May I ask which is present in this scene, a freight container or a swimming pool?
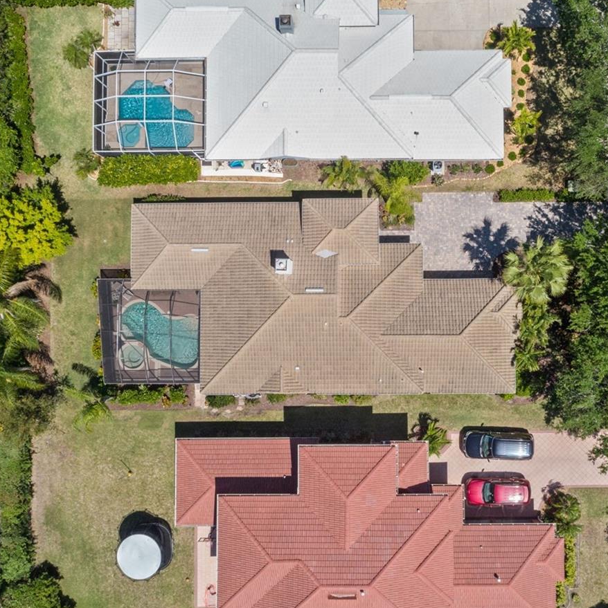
swimming pool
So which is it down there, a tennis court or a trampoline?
trampoline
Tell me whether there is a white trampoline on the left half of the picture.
Yes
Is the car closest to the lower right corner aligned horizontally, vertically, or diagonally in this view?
horizontally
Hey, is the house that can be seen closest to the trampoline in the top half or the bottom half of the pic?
bottom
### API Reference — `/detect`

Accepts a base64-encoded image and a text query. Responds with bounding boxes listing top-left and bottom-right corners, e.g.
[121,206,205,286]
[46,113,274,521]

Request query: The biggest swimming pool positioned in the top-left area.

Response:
[117,77,197,150]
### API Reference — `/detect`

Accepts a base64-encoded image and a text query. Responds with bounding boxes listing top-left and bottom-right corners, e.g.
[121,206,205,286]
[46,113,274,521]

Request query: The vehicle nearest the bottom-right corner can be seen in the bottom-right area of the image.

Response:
[466,476,530,510]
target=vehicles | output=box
[463,428,533,463]
[466,476,530,510]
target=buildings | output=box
[129,196,524,397]
[133,0,514,161]
[173,436,567,608]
